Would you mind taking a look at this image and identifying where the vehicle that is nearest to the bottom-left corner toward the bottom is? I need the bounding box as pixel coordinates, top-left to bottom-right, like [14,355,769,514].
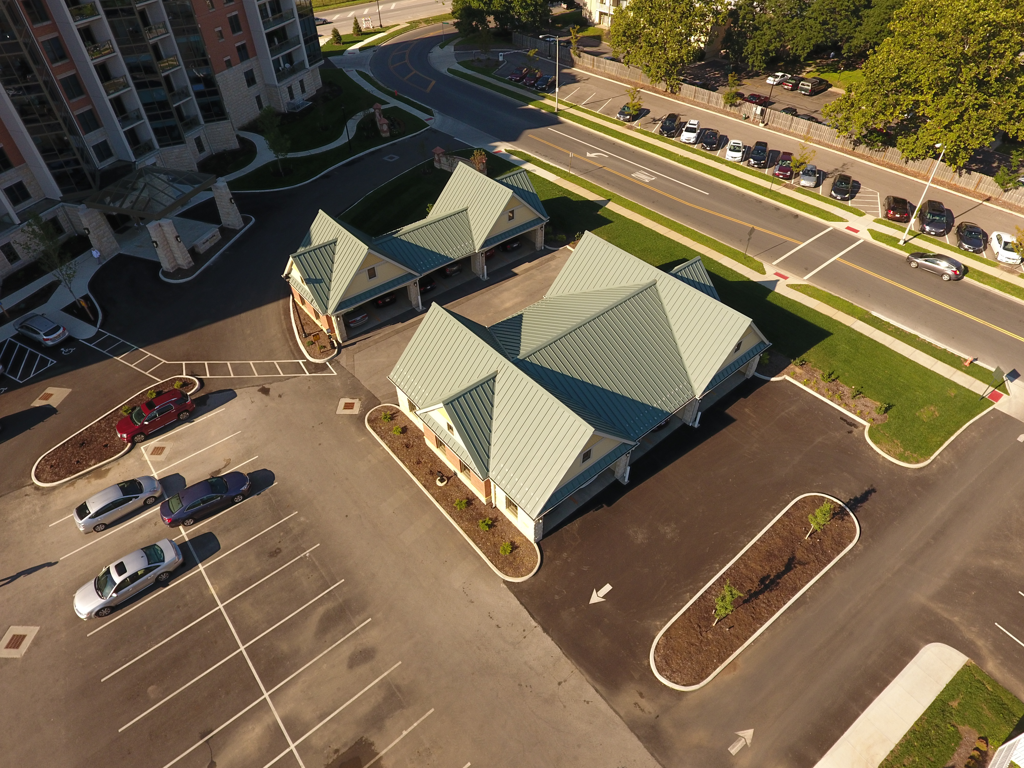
[71,542,178,622]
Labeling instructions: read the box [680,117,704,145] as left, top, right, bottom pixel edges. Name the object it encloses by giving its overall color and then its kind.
white car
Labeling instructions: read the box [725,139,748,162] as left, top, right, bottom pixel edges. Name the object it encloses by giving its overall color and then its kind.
white car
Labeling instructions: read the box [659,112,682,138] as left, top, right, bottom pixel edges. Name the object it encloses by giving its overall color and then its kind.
black car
